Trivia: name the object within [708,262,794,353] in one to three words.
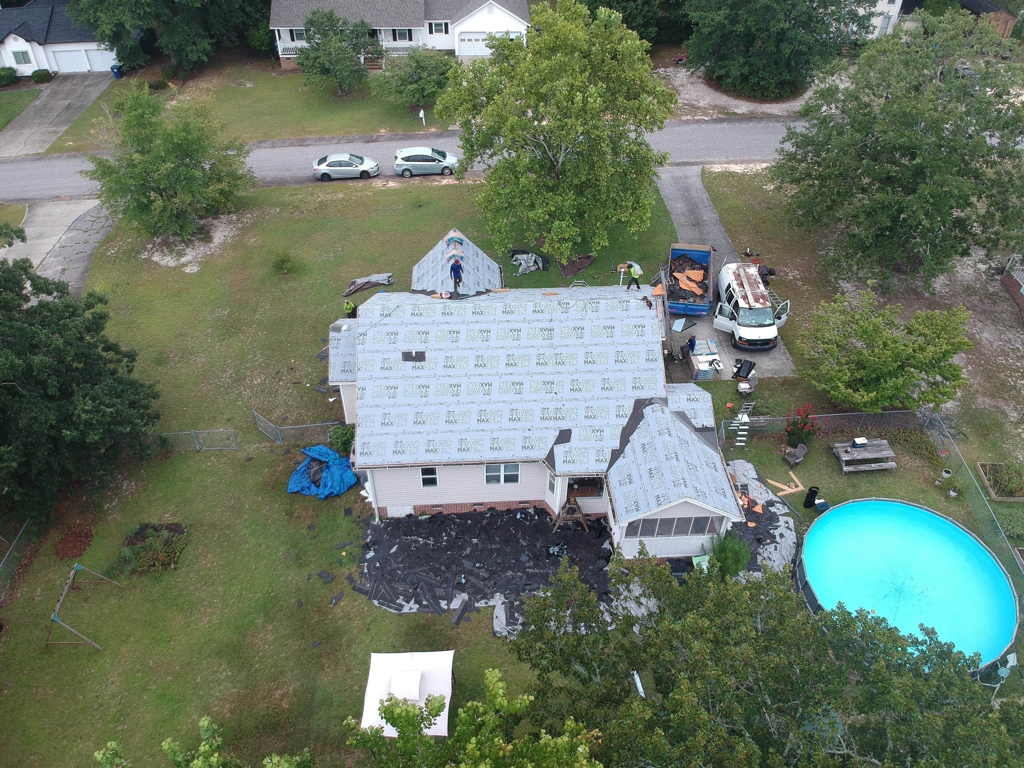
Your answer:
van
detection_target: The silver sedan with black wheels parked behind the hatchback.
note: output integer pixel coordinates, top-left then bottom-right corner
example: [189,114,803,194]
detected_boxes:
[311,154,379,181]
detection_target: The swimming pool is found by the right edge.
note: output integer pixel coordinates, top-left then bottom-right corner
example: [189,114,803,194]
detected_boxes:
[783,498,1020,687]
